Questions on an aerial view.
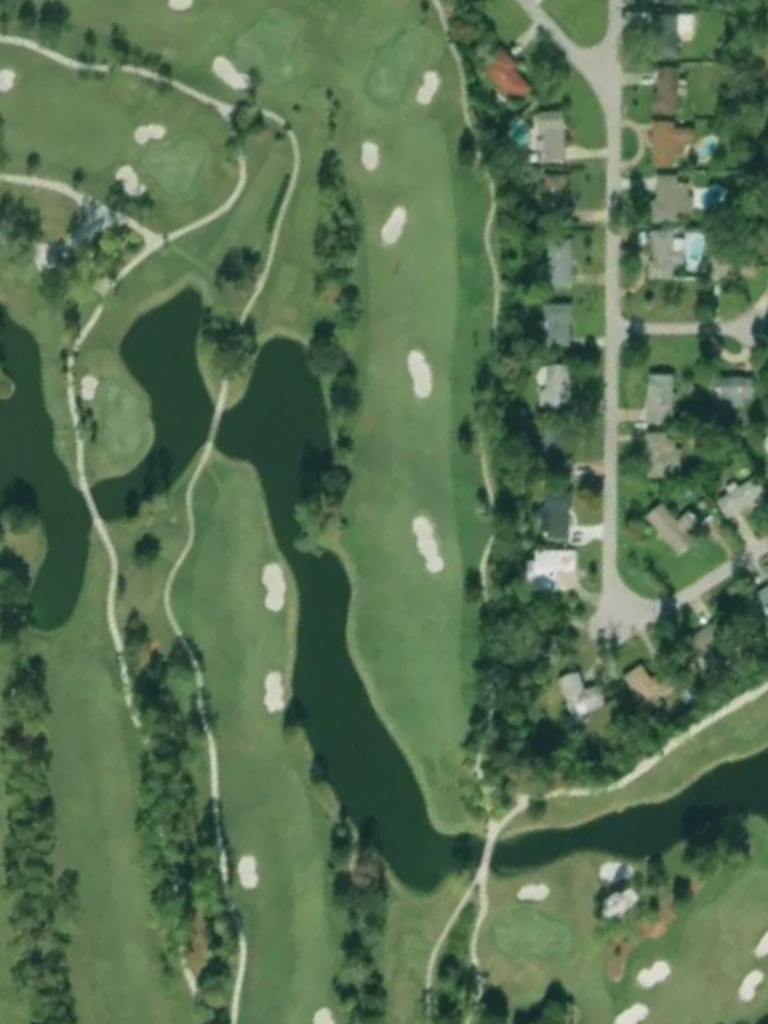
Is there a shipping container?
No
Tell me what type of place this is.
golf course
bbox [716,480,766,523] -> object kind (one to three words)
house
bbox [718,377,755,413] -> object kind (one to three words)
house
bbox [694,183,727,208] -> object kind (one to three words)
swimming pool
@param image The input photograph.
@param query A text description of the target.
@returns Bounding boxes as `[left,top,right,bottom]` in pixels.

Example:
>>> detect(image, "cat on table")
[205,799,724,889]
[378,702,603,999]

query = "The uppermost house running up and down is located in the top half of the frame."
[661,13,680,62]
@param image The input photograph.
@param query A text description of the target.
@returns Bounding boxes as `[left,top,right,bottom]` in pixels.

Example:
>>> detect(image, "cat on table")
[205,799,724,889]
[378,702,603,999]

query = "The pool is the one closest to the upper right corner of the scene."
[696,135,718,164]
